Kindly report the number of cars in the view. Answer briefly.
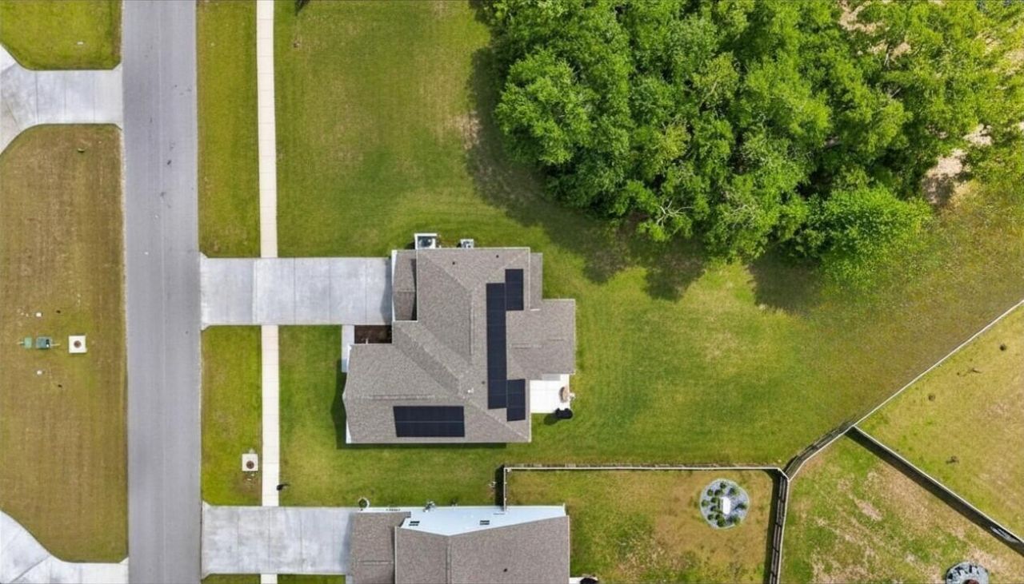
0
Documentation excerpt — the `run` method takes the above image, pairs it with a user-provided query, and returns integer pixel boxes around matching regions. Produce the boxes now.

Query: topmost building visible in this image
[343,247,576,444]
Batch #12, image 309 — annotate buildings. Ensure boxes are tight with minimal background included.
[343,247,576,444]
[352,506,570,584]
